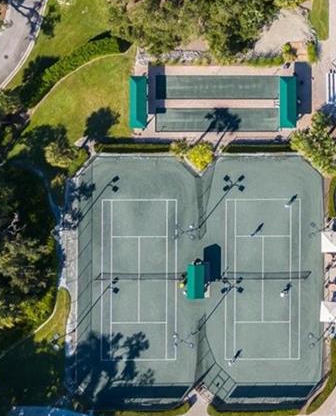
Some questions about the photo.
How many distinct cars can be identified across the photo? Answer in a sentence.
The count of cars is 0.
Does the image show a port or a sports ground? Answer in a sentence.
This looks like a sports ground.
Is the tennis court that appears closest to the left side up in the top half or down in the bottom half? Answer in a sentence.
You can find the tennis court that appears closest to the left side in the bottom half.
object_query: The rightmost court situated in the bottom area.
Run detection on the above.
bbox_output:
[199,156,323,403]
